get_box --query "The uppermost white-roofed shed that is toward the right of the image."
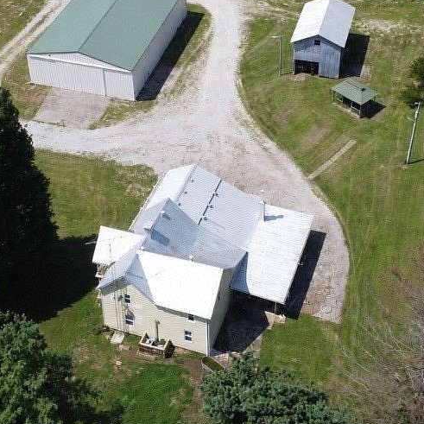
[294,0,351,79]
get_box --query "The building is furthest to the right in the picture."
[330,76,385,120]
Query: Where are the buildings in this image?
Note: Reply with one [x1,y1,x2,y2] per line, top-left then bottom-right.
[294,0,351,79]
[330,76,385,120]
[24,0,187,100]
[85,164,316,352]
